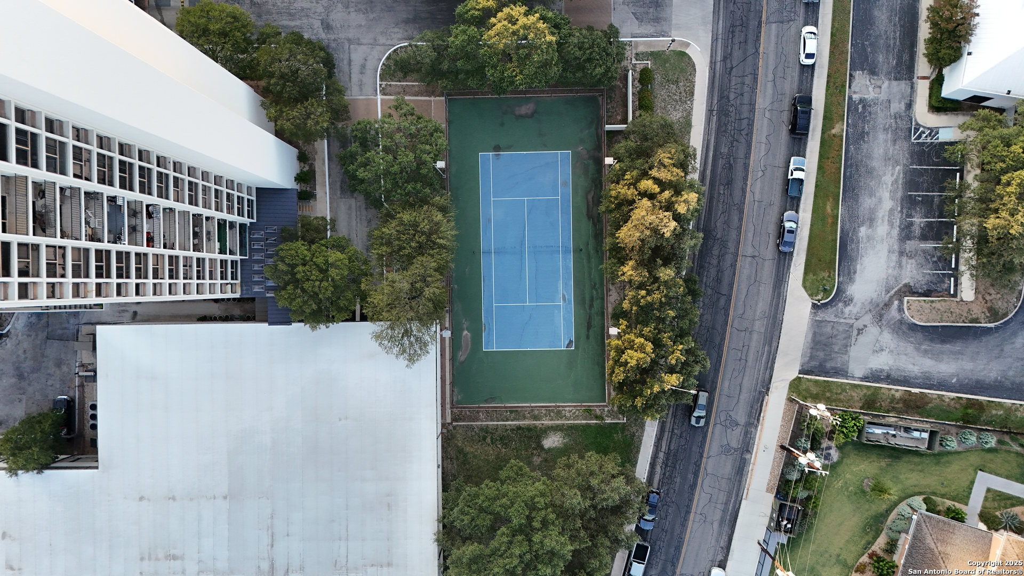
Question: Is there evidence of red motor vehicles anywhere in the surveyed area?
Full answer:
No, the picture doesn't show any red motor vehicle.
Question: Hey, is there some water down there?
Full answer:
No, water can't be seen anywhere here.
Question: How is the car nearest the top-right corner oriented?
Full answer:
From this overhead view, the car nearest the top-right corner appears to run from top to bottom.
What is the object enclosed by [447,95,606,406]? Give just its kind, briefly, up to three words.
tennis court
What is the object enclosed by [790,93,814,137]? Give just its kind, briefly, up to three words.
car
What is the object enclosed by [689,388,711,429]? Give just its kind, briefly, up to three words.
car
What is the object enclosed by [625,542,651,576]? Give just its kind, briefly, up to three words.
truck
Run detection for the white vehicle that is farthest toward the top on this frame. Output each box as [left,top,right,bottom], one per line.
[799,24,822,66]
